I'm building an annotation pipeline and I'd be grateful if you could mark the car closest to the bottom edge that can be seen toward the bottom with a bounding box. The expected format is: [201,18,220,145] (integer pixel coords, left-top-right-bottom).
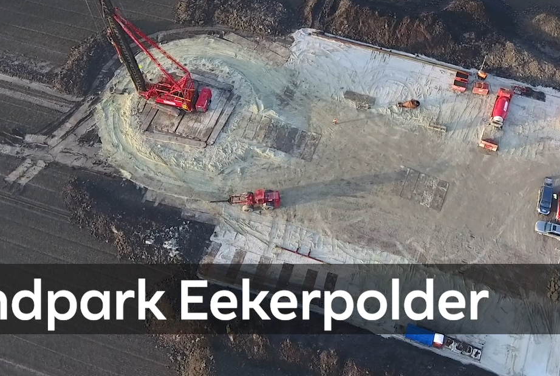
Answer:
[534,224,560,246]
